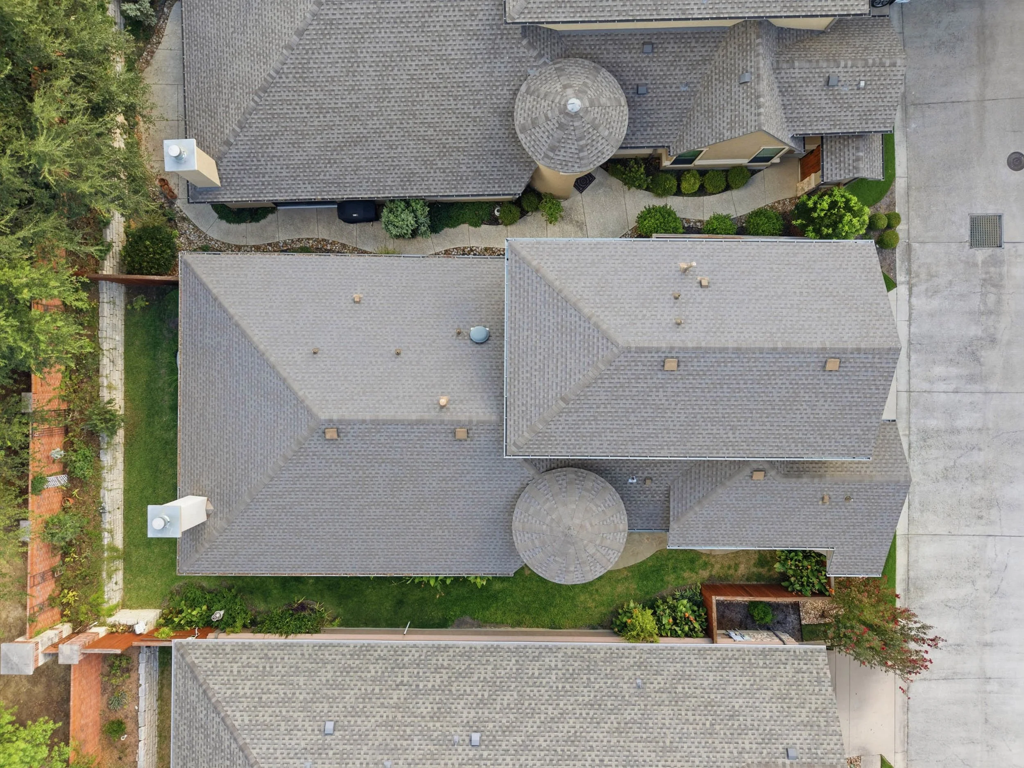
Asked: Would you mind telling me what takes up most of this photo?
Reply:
buildings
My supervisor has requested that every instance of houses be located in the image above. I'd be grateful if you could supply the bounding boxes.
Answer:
[148,237,911,583]
[171,623,848,768]
[163,0,907,211]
